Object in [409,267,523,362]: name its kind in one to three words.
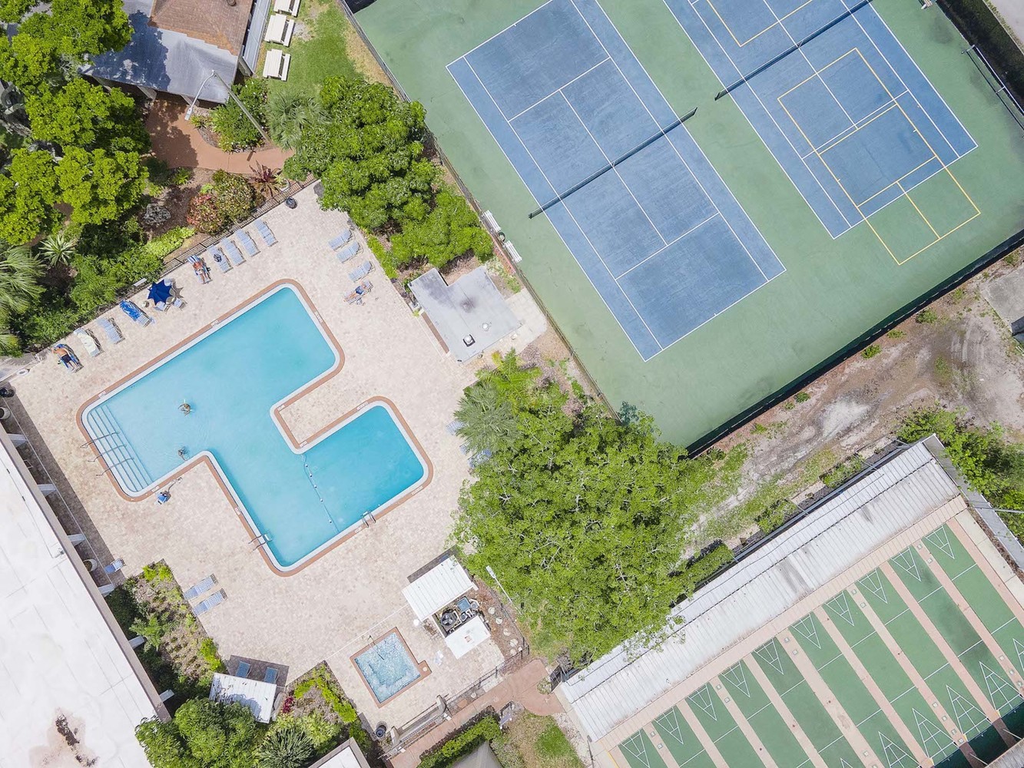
building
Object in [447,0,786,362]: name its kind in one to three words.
tennis court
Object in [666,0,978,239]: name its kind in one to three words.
tennis court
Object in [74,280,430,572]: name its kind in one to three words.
swimming pool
